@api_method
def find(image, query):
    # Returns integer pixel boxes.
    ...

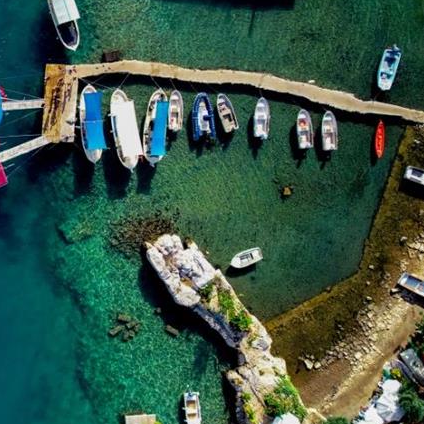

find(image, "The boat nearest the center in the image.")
[231,246,265,267]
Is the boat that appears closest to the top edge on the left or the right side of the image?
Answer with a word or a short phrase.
left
